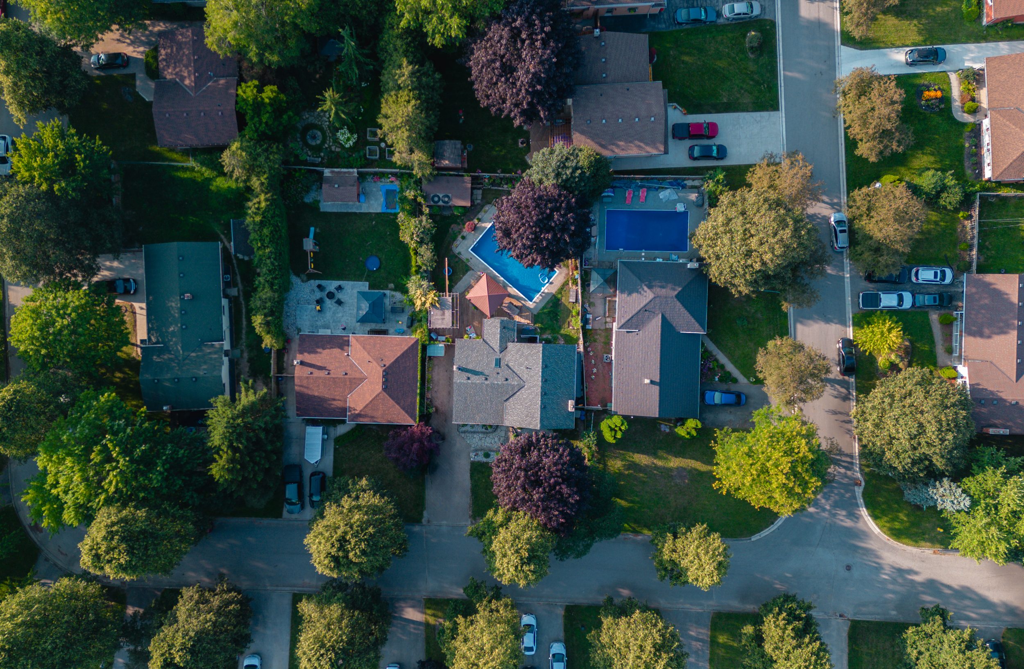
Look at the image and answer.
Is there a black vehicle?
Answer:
Yes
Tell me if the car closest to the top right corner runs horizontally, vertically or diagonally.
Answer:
horizontally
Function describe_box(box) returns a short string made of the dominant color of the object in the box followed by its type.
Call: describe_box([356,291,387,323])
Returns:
blue gazebo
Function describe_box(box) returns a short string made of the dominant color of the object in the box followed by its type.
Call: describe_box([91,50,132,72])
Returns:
black car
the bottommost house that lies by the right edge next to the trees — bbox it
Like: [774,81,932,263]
[956,271,1024,436]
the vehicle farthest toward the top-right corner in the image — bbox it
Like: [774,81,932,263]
[902,45,946,68]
